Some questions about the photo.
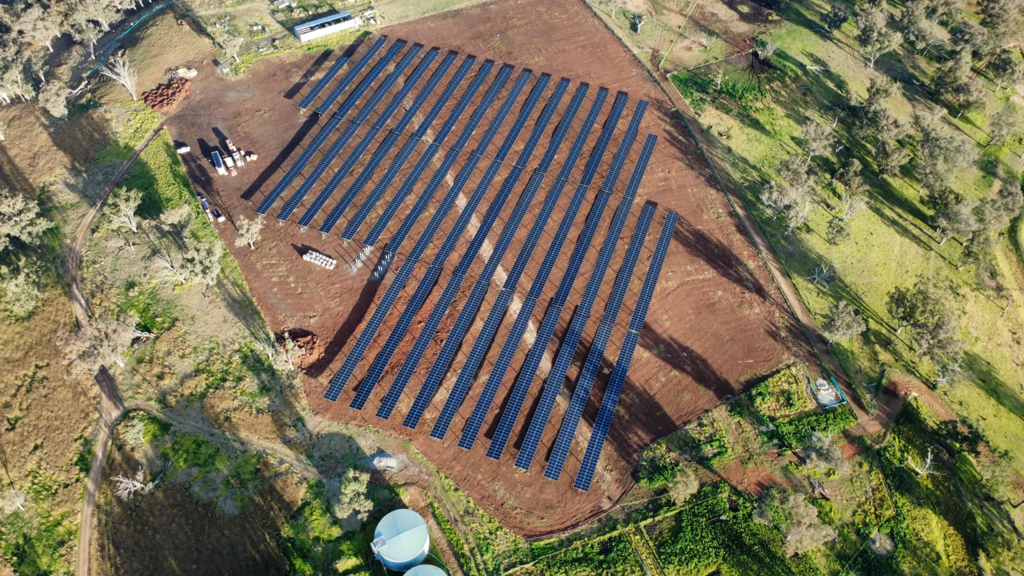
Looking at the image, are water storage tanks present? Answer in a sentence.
Yes, looking at the shot, I can spot a water storage tank.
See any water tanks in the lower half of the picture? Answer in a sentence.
Yes, a water tank can be seen in the lower half of the picture.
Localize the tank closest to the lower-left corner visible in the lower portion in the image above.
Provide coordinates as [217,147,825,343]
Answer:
[370,514,429,574]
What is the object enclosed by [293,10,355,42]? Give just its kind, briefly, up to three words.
shed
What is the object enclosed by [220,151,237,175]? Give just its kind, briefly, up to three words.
vehicle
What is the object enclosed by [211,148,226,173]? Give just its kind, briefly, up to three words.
vehicle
